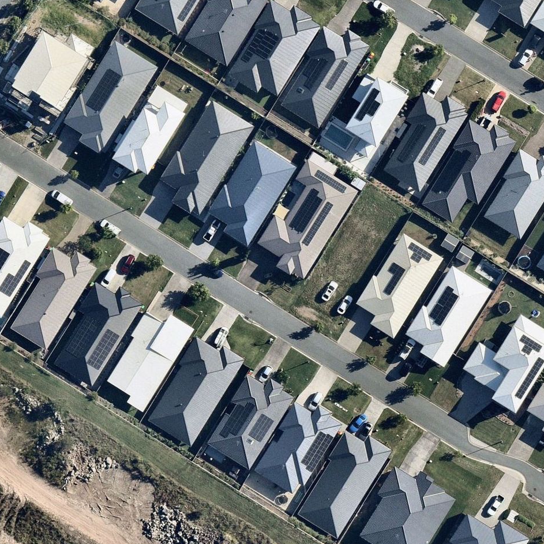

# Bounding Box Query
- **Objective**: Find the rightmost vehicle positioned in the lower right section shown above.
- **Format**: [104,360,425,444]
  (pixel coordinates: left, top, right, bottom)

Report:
[488,494,505,518]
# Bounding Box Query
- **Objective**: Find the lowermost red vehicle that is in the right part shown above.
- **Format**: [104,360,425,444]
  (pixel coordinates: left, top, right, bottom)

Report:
[491,91,508,112]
